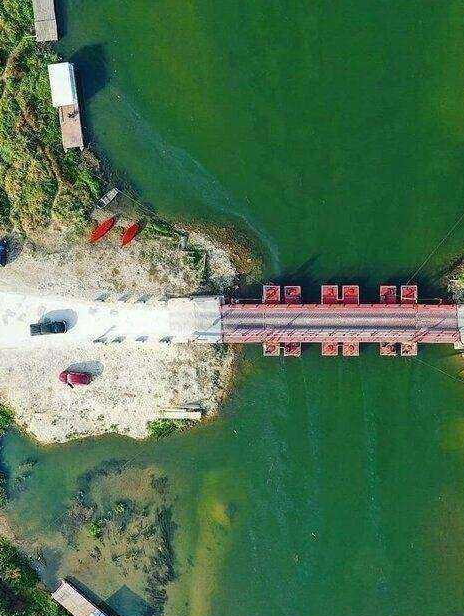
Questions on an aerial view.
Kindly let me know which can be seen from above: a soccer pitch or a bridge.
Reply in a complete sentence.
This aerial view contains a bridge.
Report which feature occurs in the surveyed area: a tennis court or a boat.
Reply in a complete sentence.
The one in the frame is a boat.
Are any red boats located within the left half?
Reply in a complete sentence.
Yes, a red boat can be seen within the left half.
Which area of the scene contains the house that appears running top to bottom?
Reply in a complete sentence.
The house that appears running top to bottom appears toward the top left of the photo.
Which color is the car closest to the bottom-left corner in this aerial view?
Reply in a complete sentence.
The color of the car closest to the bottom-left corner is red.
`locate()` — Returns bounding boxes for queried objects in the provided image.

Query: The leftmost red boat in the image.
[90,216,117,242]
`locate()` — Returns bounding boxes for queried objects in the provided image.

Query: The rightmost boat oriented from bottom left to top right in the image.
[122,222,140,245]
